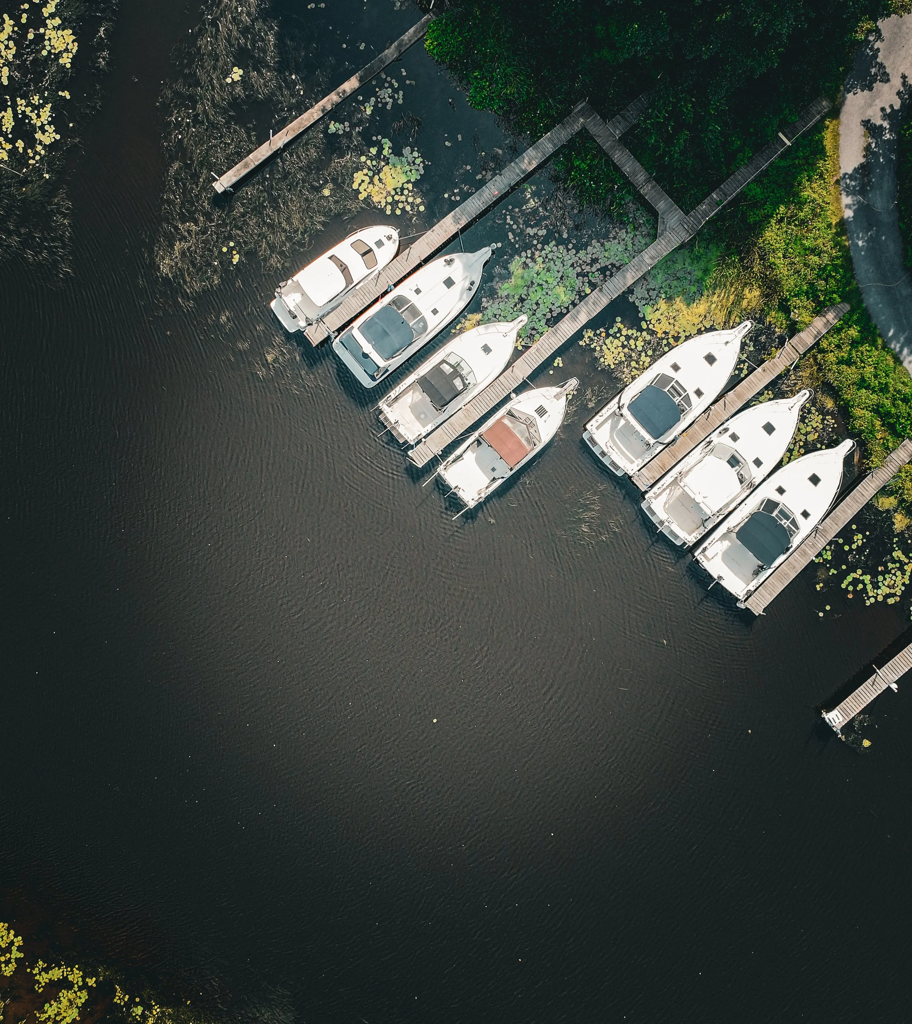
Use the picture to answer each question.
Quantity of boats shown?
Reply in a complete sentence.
The picture shows 7 boats.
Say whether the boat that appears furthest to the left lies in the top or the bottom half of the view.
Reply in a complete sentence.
The boat that appears furthest to the left sits in the top half of the picture.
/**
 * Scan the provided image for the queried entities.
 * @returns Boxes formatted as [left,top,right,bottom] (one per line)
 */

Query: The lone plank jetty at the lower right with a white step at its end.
[819,641,912,739]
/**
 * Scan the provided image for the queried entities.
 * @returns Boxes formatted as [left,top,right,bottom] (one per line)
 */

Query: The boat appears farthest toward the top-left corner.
[270,229,400,332]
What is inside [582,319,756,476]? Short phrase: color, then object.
white boat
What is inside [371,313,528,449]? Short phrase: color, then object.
white boat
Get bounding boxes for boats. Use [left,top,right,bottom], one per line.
[582,319,756,476]
[371,313,528,449]
[270,229,400,332]
[423,377,580,519]
[331,243,498,390]
[693,438,857,602]
[641,388,815,548]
